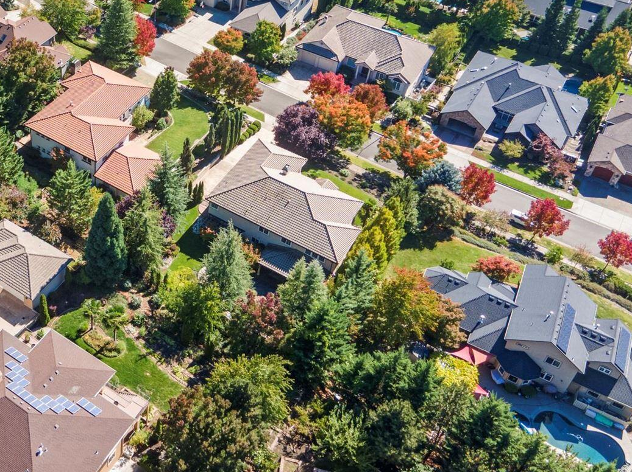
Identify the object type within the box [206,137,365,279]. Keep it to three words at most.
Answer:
house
